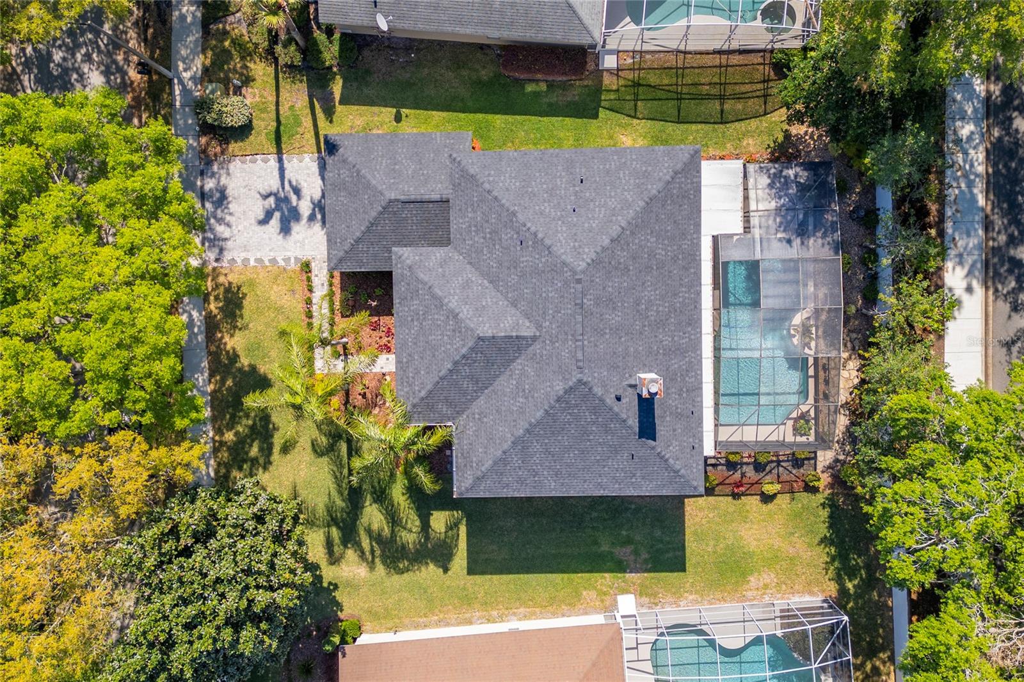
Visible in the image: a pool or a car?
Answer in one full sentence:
The one in the frame is a pool.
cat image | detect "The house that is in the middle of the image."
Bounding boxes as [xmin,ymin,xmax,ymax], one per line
[323,131,706,499]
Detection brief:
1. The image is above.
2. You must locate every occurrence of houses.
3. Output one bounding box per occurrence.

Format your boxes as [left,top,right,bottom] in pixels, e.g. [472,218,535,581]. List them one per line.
[323,131,706,499]
[317,0,603,51]
[338,614,627,682]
